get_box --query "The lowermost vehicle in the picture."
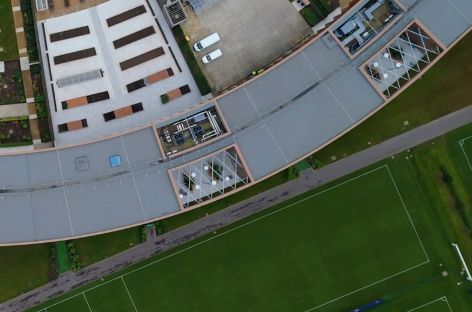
[202,48,224,64]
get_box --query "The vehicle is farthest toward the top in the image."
[195,33,222,52]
